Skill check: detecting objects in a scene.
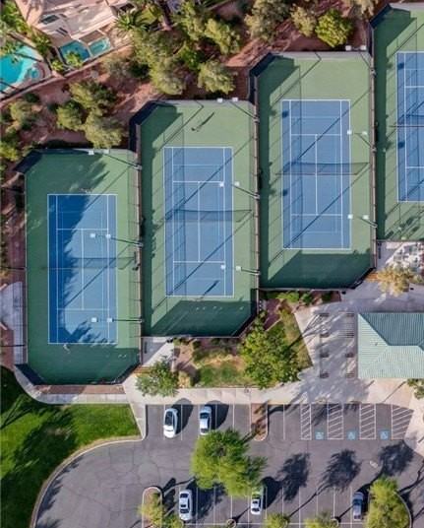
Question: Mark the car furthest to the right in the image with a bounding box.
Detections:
[350,489,364,521]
